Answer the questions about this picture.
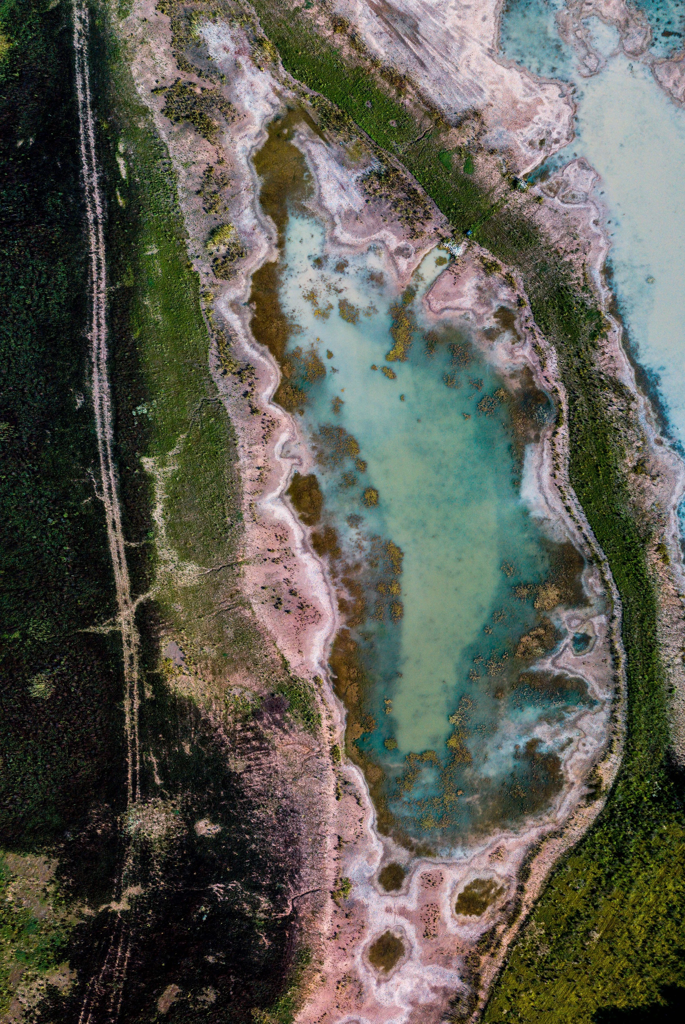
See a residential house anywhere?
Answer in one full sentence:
No, no residential house is visible in the view.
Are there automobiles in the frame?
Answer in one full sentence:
No, there appears to be no automobile in this shot.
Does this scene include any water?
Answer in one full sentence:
Yes, there's water in this view.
